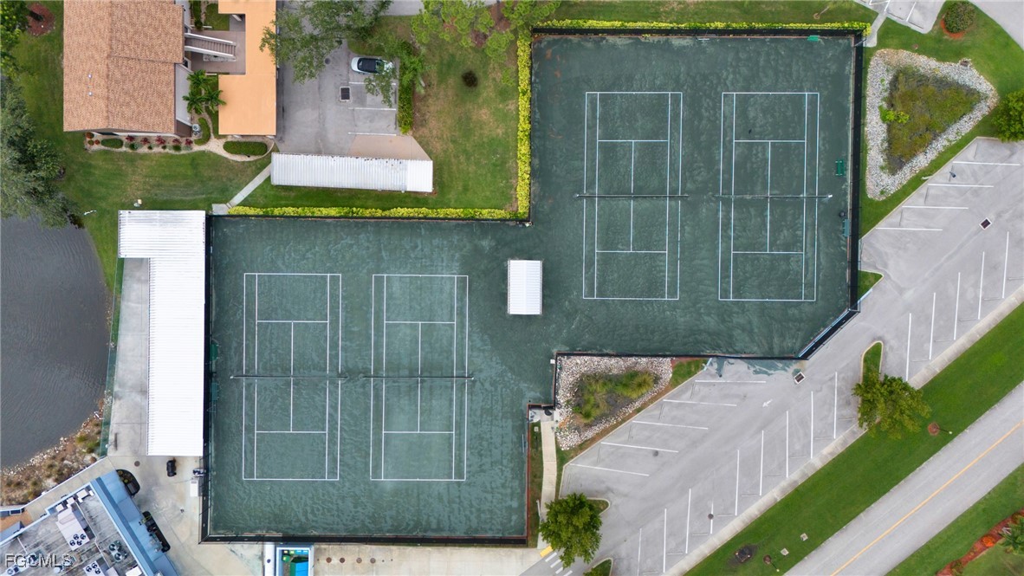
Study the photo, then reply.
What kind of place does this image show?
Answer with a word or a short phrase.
sports ground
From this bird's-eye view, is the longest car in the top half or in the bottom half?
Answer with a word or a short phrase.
top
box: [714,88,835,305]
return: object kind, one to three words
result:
tennis court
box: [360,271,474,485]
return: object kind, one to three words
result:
tennis court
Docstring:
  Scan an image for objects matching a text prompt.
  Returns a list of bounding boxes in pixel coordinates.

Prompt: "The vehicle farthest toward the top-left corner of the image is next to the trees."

[350,54,391,75]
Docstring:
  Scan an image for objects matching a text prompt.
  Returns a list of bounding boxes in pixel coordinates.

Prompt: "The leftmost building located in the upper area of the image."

[65,0,193,137]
